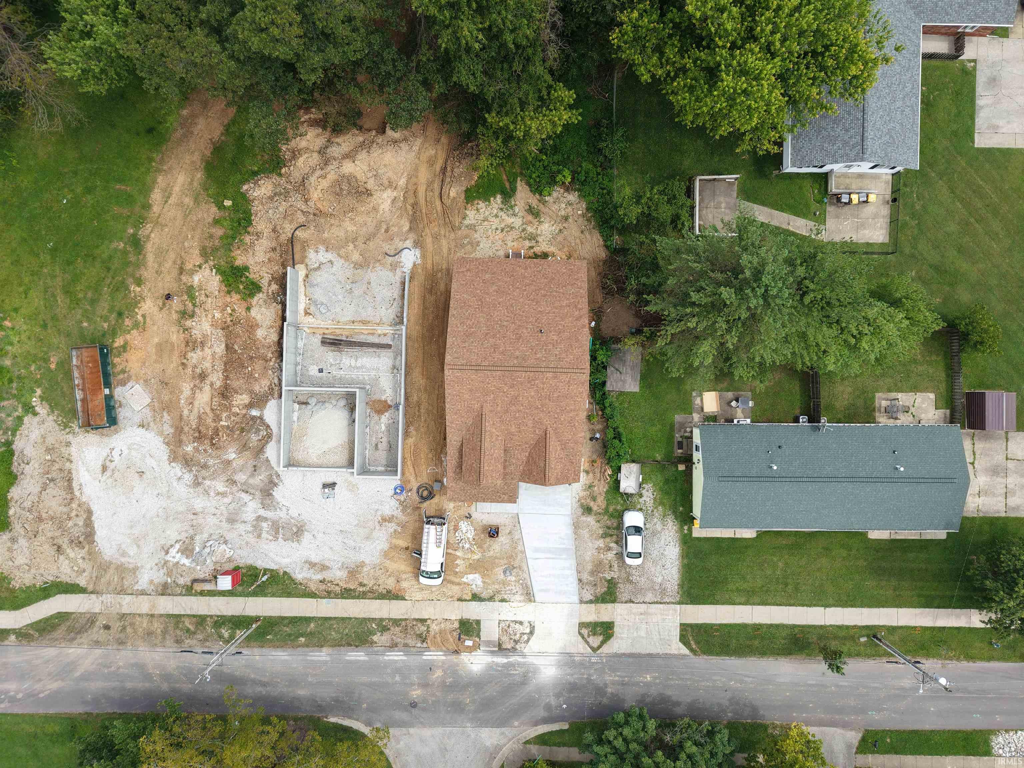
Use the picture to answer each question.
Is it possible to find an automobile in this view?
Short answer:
Yes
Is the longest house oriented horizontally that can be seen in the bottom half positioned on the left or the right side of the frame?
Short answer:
right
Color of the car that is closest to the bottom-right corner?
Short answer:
white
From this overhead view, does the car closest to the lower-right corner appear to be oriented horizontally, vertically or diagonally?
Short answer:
vertically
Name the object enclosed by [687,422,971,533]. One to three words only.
house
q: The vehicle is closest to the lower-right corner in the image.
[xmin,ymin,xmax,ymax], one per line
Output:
[621,508,647,566]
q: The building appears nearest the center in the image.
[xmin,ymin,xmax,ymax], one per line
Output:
[444,248,589,504]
